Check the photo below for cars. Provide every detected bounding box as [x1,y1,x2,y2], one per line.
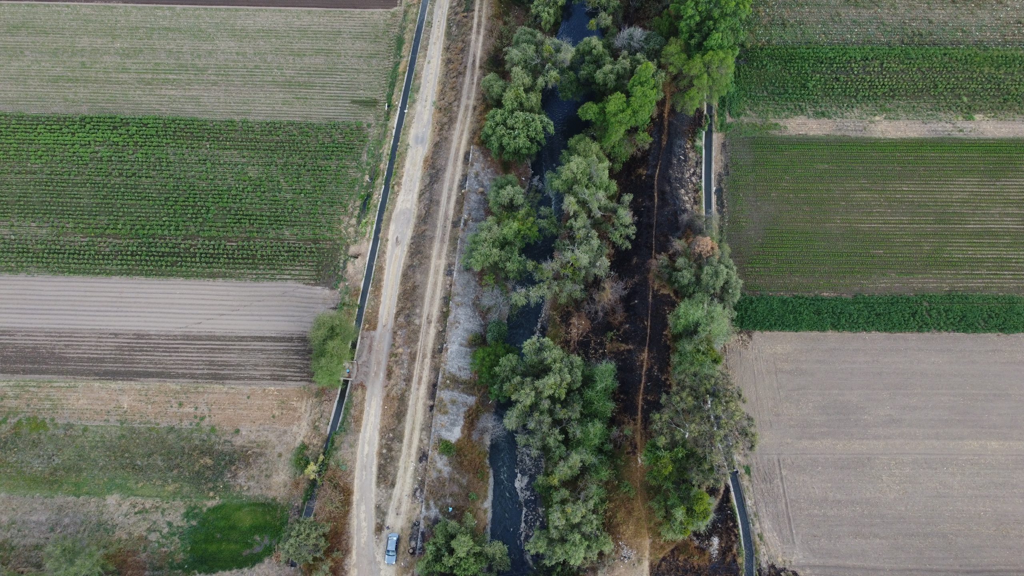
[384,533,400,566]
